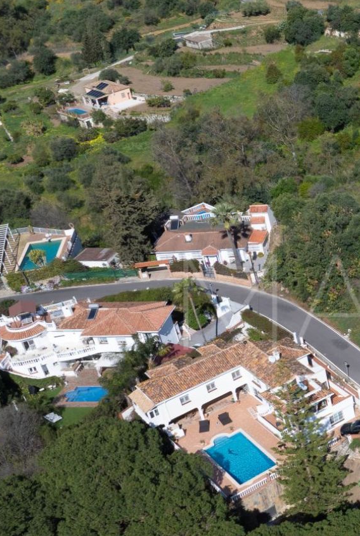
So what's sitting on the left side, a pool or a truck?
pool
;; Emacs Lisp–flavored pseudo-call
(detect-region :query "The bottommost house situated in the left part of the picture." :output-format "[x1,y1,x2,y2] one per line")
[0,296,183,381]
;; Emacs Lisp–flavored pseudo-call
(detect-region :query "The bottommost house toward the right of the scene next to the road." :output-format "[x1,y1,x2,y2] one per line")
[128,319,355,440]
